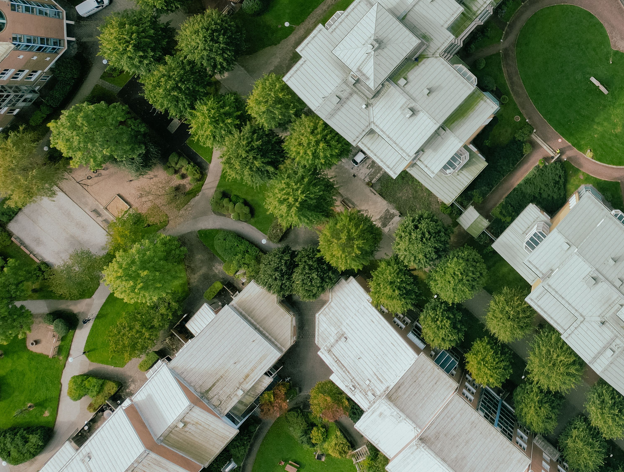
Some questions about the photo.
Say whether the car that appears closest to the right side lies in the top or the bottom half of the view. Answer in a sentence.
You can find the car that appears closest to the right side in the top half.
